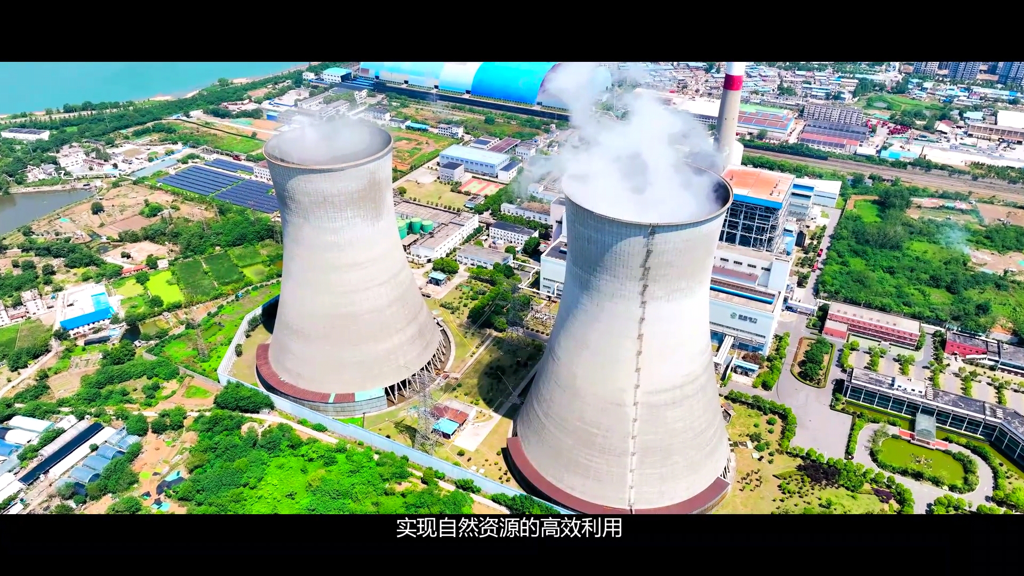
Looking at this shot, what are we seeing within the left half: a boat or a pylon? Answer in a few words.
pylon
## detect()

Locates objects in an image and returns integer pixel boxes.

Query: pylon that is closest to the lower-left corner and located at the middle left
[180,306,217,365]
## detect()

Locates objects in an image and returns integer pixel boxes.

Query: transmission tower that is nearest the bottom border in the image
[403,377,444,455]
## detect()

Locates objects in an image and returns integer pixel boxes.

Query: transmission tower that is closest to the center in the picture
[500,292,526,352]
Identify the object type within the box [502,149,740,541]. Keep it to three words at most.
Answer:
cooling tower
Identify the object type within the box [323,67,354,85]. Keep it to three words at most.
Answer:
building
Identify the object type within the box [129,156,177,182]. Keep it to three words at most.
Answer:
shed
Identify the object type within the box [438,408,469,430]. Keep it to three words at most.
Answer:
house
